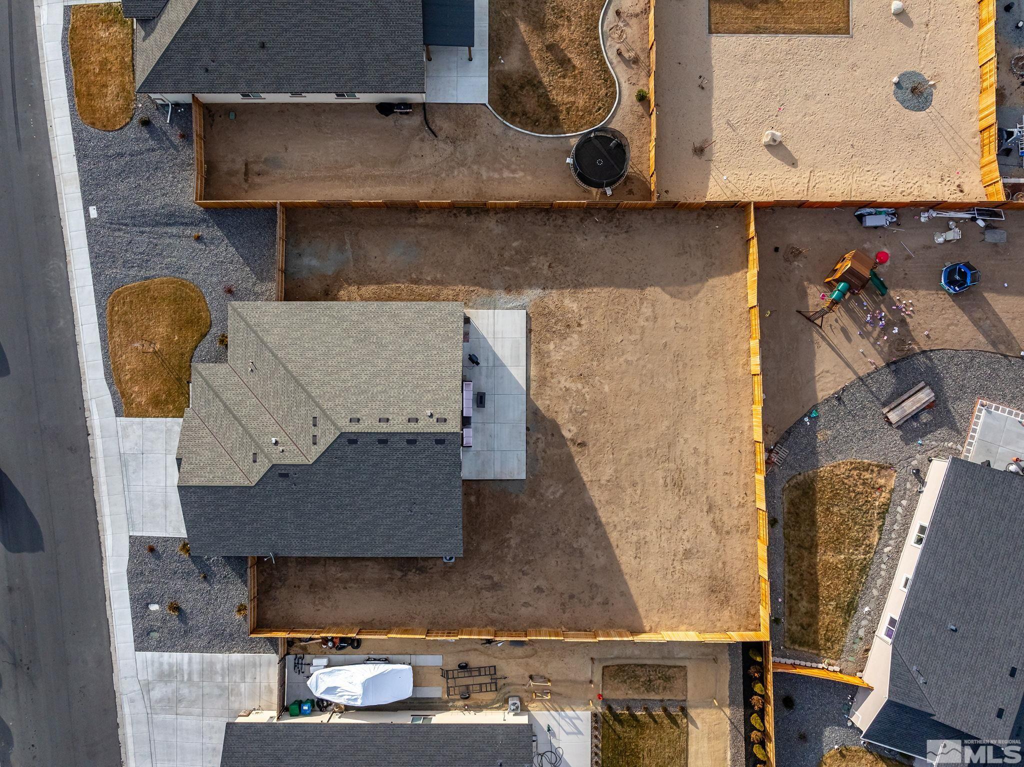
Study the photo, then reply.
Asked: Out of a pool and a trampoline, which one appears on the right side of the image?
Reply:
trampoline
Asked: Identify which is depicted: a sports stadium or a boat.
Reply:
boat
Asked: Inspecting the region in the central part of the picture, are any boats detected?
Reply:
No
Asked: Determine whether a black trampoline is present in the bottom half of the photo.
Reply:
No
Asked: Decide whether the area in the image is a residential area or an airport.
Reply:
residential area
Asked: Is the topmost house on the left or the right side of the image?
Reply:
left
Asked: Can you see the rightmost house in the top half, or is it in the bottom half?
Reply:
bottom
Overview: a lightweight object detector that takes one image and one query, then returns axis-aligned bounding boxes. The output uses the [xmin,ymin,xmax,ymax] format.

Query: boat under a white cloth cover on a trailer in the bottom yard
[305,662,413,707]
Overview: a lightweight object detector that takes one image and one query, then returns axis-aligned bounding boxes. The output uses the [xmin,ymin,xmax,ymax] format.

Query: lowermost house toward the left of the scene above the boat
[176,300,464,564]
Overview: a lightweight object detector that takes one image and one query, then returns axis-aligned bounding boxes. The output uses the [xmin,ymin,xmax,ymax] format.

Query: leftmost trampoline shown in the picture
[566,125,632,196]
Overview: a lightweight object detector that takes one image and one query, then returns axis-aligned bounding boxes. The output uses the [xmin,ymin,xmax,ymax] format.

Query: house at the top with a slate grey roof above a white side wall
[121,0,426,123]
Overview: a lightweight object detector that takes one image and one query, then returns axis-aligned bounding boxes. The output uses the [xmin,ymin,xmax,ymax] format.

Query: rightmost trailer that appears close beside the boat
[441,663,509,698]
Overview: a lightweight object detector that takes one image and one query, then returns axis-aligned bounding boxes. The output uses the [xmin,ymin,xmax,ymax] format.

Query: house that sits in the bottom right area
[850,456,1024,767]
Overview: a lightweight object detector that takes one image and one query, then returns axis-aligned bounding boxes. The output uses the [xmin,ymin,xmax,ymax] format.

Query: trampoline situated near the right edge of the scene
[939,262,983,296]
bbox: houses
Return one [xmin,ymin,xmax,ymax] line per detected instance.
[121,0,426,123]
[219,709,535,767]
[176,300,464,564]
[850,456,1024,767]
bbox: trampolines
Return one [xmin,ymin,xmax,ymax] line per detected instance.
[939,262,983,296]
[566,125,632,196]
